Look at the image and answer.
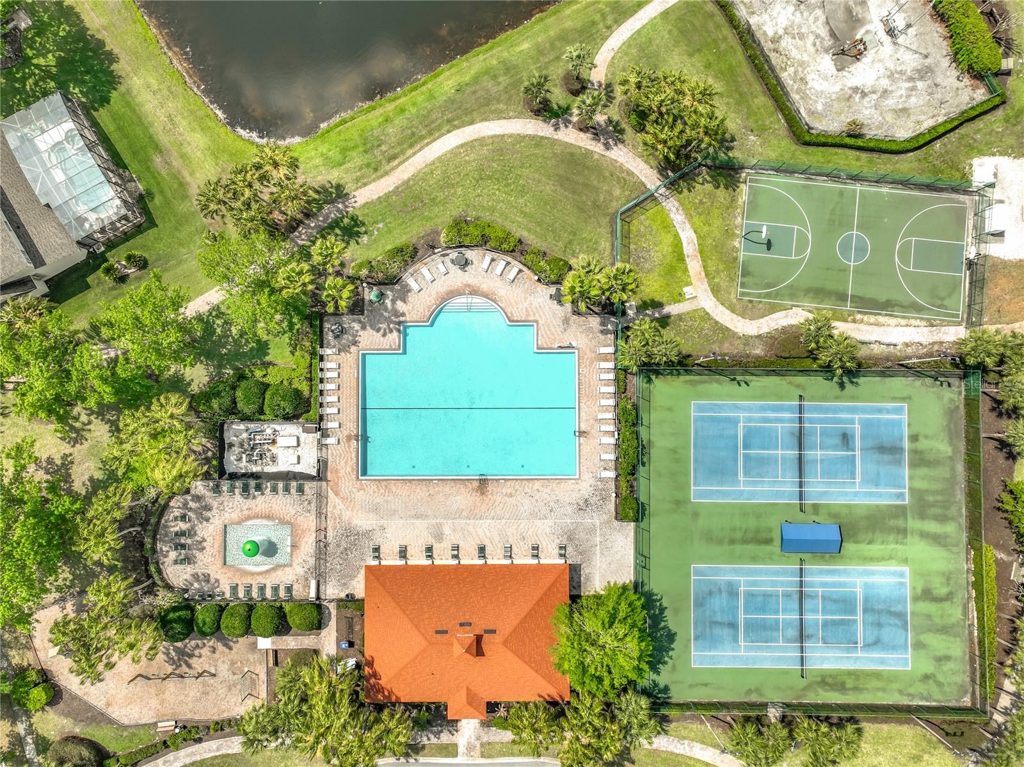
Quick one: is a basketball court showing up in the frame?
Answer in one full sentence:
Yes, the frame does contain a basketball court.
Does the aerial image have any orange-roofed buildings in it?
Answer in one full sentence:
Yes, I can see an orange-roofed building in this picture.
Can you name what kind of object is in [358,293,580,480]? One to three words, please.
swimming pool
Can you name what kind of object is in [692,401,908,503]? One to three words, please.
tennis court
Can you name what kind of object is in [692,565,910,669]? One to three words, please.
tennis court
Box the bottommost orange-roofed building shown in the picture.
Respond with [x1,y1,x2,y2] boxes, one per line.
[364,559,570,719]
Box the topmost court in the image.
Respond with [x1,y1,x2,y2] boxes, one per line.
[733,173,974,328]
